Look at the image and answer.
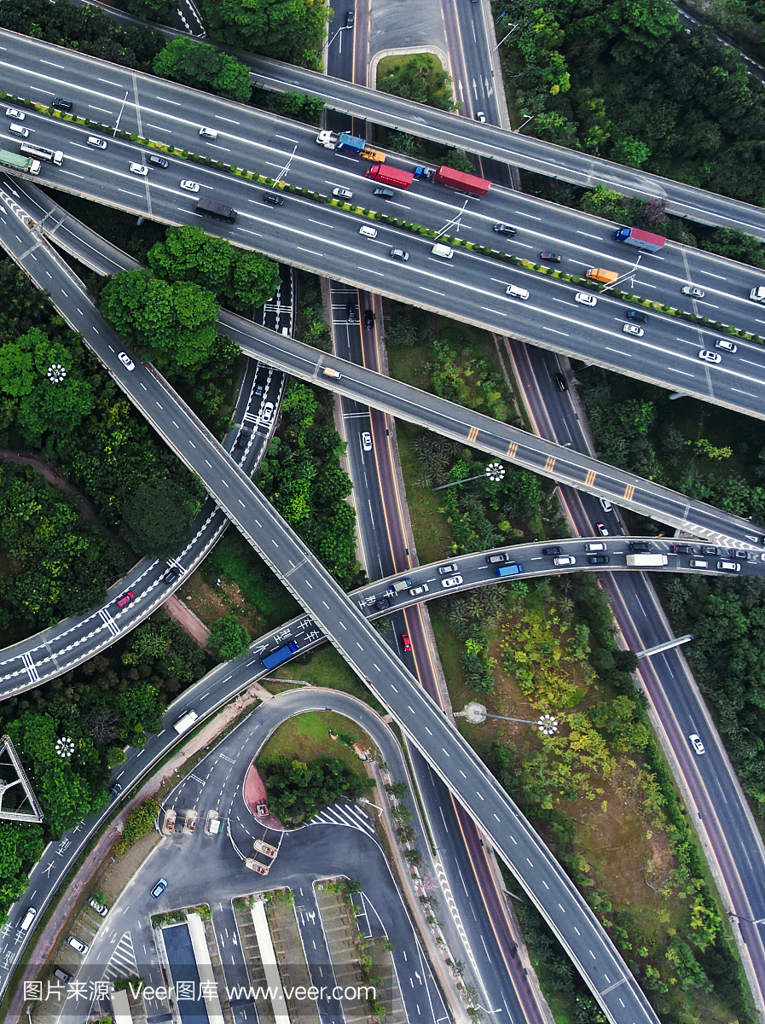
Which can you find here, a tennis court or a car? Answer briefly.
car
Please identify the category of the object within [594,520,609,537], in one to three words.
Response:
car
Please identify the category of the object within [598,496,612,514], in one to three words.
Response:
car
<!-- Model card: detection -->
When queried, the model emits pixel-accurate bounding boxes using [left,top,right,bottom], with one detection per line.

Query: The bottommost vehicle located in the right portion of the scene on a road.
[688,734,703,754]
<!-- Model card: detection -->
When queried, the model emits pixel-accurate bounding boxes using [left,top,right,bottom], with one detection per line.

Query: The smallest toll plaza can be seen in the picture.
[245,840,277,879]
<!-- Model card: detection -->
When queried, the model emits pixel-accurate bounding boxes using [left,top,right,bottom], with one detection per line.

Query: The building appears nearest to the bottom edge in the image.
[160,920,209,1024]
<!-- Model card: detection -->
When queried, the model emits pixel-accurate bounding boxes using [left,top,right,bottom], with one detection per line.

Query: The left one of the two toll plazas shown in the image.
[156,809,225,837]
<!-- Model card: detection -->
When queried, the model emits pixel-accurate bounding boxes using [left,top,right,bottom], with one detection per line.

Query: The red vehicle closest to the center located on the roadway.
[400,632,412,651]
